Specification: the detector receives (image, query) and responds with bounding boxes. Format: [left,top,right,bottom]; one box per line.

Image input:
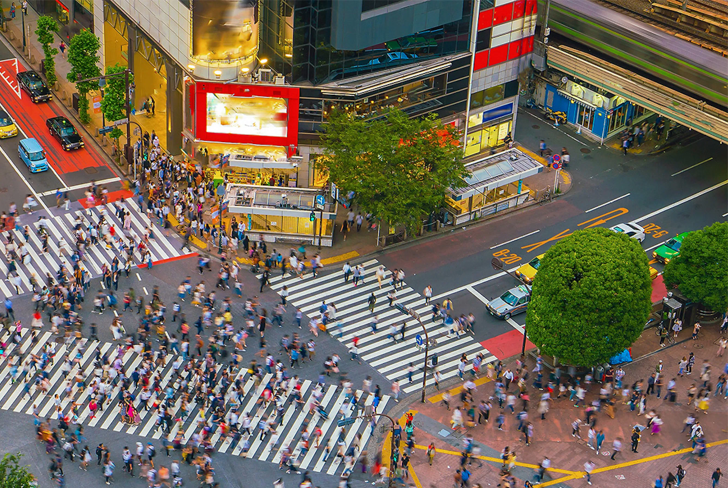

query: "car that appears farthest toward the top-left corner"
[16,70,53,103]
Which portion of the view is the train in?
top right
